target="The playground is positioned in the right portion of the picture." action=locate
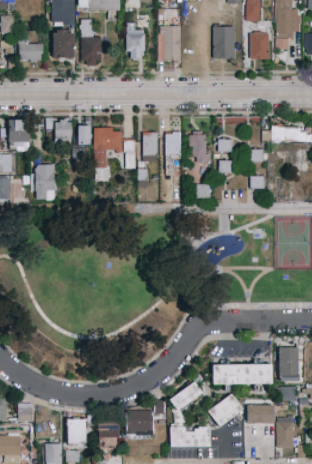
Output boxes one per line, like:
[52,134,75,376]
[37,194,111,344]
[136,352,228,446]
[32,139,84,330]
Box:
[201,235,244,266]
